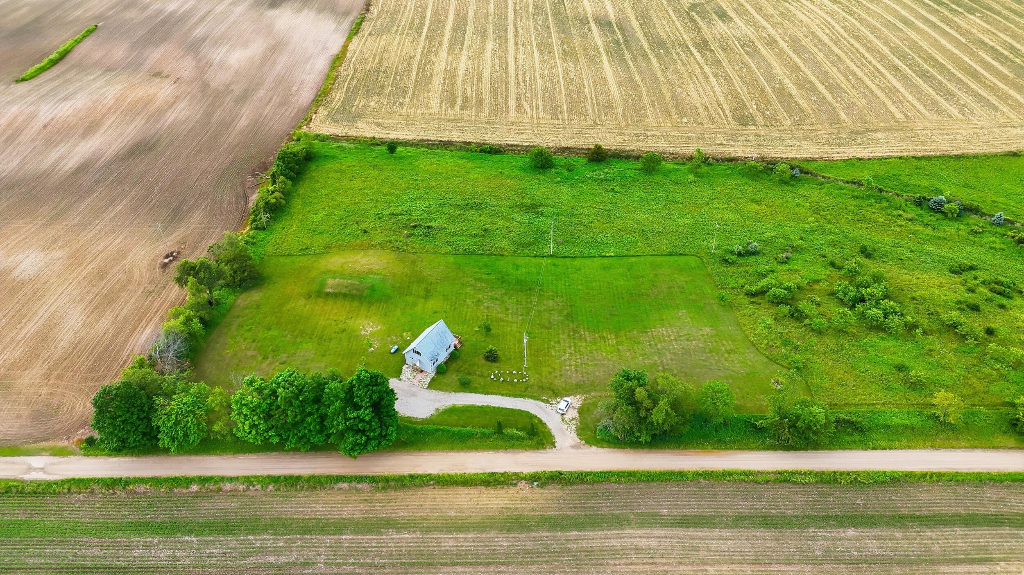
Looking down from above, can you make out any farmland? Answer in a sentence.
Yes, there is farmland in the image.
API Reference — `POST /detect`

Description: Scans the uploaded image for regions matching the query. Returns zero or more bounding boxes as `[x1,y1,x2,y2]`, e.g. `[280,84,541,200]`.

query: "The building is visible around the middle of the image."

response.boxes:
[401,321,463,375]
